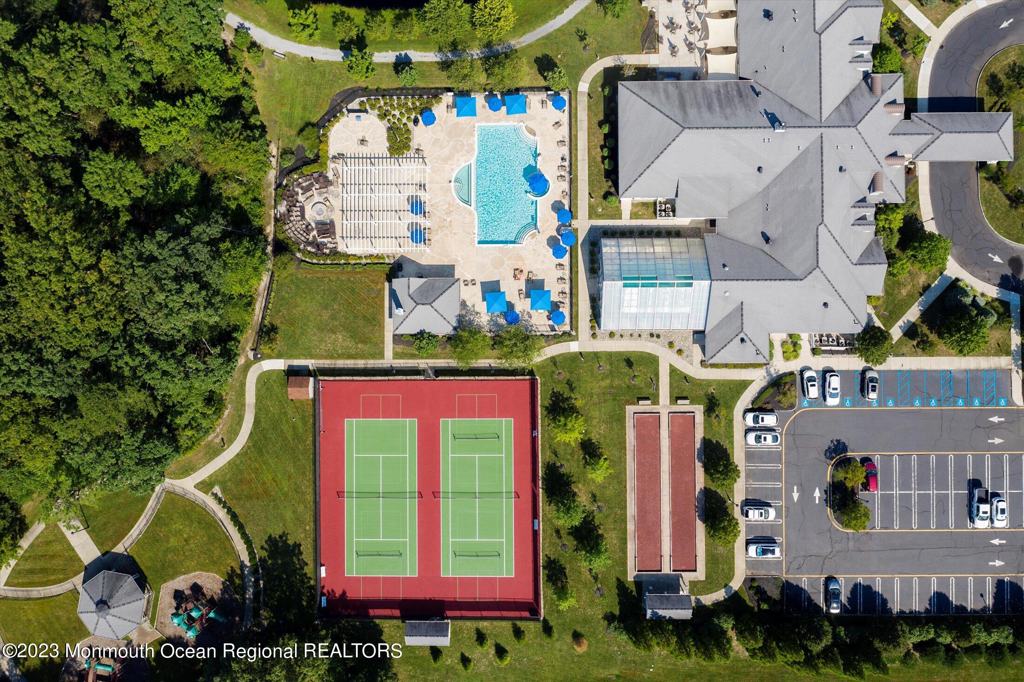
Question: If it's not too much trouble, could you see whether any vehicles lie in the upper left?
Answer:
No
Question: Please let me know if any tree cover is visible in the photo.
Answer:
Yes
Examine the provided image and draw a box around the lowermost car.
[826,578,843,611]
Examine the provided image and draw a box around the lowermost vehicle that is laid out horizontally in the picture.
[748,544,781,560]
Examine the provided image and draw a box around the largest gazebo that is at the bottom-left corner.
[77,566,154,641]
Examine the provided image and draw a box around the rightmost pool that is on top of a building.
[624,276,691,288]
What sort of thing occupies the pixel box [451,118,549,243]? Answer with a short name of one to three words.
swimming pool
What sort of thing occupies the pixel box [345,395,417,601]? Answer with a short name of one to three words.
tennis court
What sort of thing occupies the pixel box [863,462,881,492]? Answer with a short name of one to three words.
car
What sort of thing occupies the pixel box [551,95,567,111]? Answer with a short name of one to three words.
umbrella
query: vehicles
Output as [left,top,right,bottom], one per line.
[863,371,881,400]
[803,370,820,400]
[990,497,1008,528]
[748,544,781,560]
[744,412,778,428]
[825,373,842,405]
[746,431,780,447]
[826,578,843,611]
[972,487,993,528]
[863,462,881,492]
[743,506,775,522]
